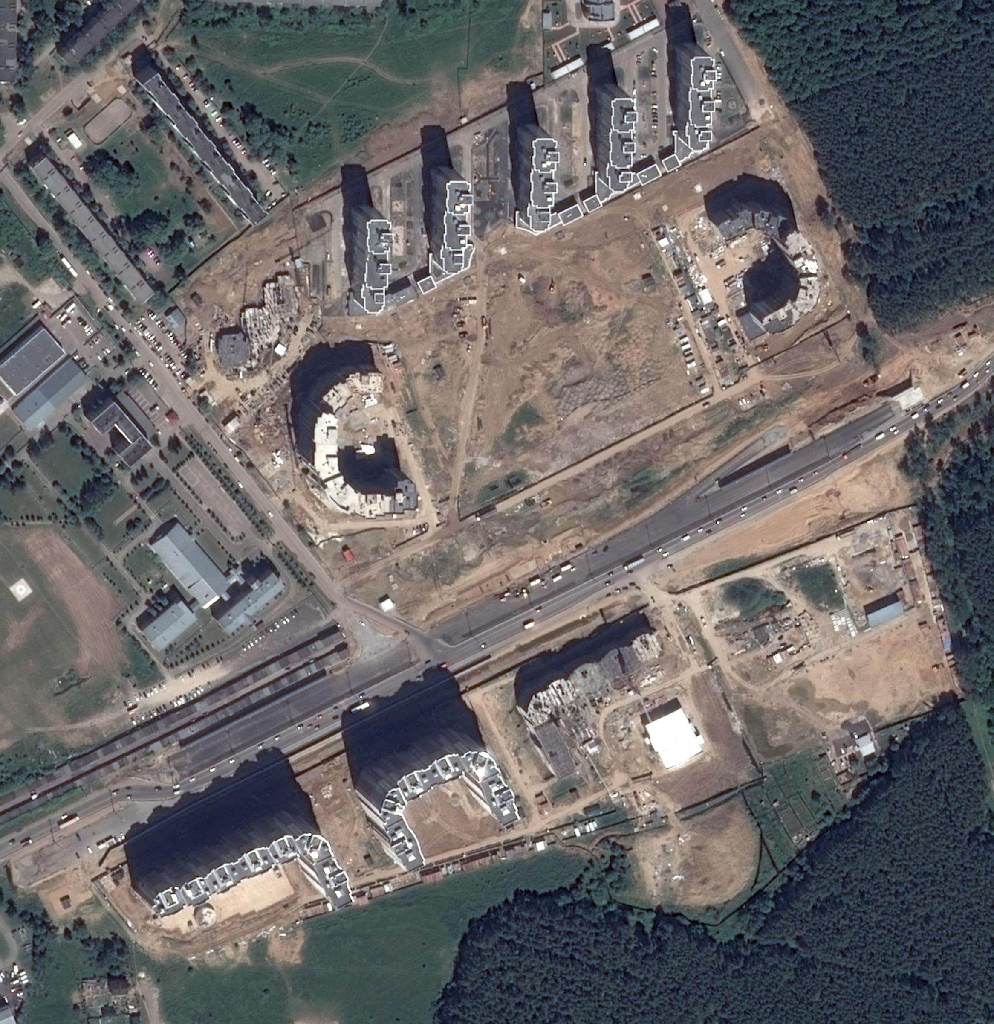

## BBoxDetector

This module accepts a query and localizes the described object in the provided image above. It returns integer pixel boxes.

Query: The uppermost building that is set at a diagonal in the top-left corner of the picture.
[57,0,140,67]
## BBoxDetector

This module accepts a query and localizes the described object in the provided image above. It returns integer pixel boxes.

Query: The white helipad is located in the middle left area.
[9,578,32,602]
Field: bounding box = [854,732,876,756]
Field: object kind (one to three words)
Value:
house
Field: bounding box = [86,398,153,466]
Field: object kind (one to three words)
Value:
building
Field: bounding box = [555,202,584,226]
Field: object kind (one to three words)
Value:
building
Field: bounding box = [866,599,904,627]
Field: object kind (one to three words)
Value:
shed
